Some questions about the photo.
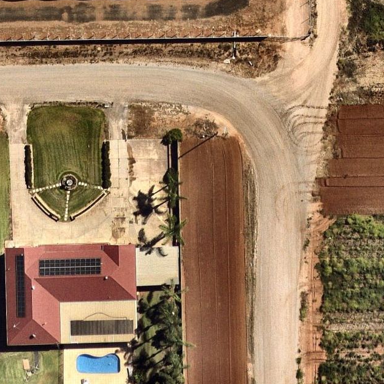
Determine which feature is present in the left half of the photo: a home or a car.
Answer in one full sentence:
You can see a home in the left half of the photo.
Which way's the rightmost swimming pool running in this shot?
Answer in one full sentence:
What the image shows is the rightmost swimming pool lying from left to right.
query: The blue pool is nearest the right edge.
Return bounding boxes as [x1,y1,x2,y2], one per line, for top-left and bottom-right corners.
[77,353,121,374]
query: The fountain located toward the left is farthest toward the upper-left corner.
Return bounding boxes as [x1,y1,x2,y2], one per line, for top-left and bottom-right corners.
[61,174,77,191]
